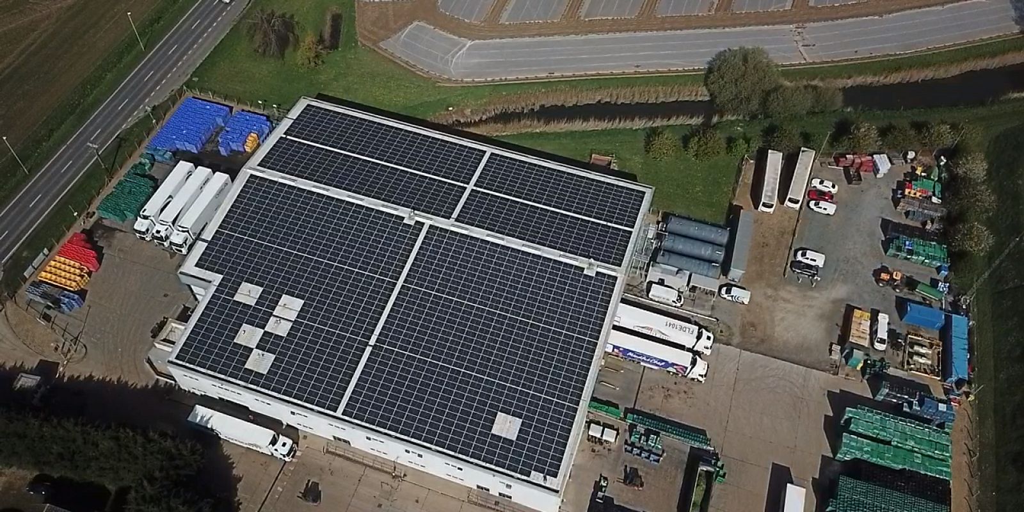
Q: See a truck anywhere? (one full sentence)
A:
Yes, the frame does contain a truck.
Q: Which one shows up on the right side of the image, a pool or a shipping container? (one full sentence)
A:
The feature located on the right side of the image is a shipping container.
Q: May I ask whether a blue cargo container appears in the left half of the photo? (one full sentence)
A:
No, no blue cargo container can be made out in the left half of the photo.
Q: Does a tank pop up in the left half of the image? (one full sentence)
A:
No, there is no tank in the left half of the image.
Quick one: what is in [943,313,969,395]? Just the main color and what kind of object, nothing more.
blue shipping container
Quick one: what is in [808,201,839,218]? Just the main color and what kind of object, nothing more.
white vehicle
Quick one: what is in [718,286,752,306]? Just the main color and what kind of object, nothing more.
white vehicle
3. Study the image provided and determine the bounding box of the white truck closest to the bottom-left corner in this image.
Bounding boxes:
[190,404,298,459]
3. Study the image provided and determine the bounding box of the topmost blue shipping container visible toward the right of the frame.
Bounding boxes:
[899,300,945,330]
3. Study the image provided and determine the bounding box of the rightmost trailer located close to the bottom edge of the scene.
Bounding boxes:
[778,482,805,512]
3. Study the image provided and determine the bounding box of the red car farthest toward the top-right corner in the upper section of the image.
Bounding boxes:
[809,191,835,204]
